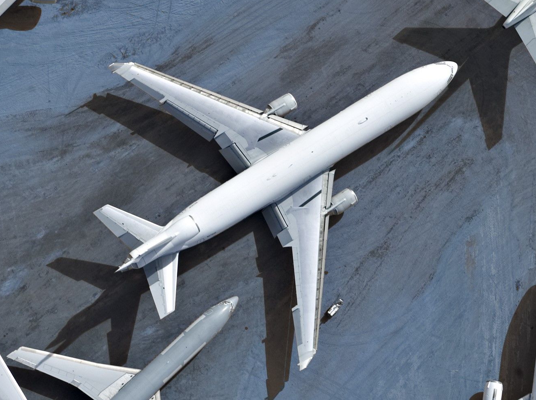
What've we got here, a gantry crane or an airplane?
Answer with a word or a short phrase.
airplane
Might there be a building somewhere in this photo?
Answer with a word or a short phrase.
No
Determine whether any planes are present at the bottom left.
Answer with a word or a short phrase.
Yes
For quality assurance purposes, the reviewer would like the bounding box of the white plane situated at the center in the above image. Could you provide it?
[94,62,457,373]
